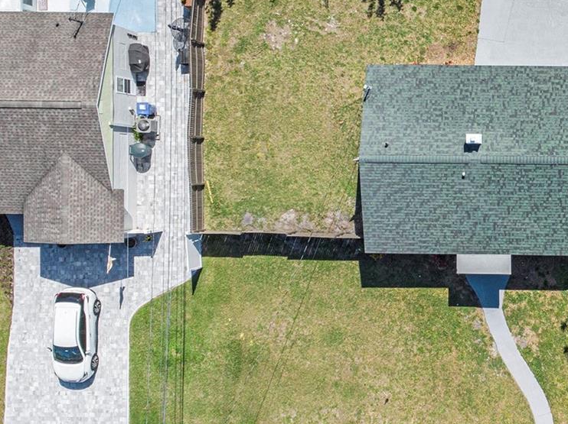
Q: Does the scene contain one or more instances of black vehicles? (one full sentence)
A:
No, there is no black vehicle in the image.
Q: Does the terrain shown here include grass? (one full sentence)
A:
Yes, there is grass in the image.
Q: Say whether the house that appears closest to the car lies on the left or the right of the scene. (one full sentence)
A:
The house that appears closest to the car appears in the left half of the scene.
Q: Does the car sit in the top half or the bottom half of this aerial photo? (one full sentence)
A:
The car is in the bottom half of the image.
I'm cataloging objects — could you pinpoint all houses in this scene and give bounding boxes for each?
[354,64,568,275]
[0,12,145,246]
